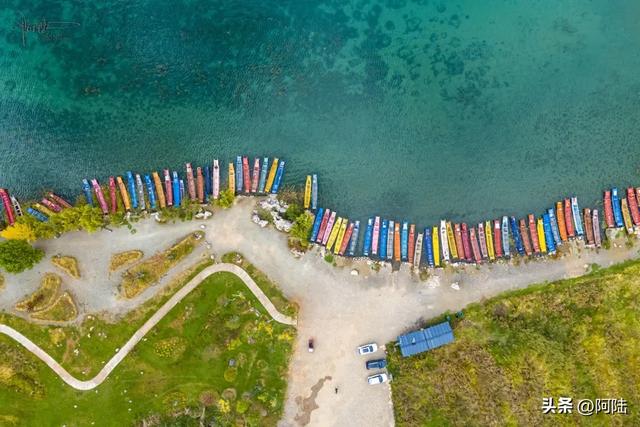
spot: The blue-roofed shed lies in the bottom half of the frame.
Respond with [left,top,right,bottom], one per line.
[398,322,453,354]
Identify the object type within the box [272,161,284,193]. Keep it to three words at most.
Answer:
boat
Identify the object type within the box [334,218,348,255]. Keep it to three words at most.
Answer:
boat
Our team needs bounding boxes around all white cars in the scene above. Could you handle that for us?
[367,373,388,384]
[357,343,378,354]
